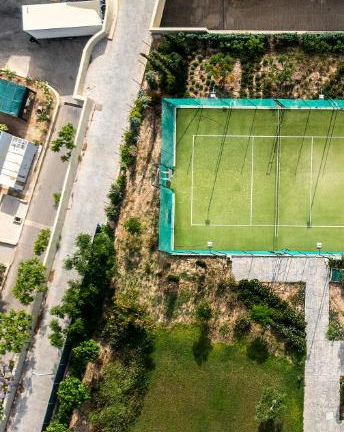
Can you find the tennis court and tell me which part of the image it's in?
right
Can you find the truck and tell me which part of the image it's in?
top left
